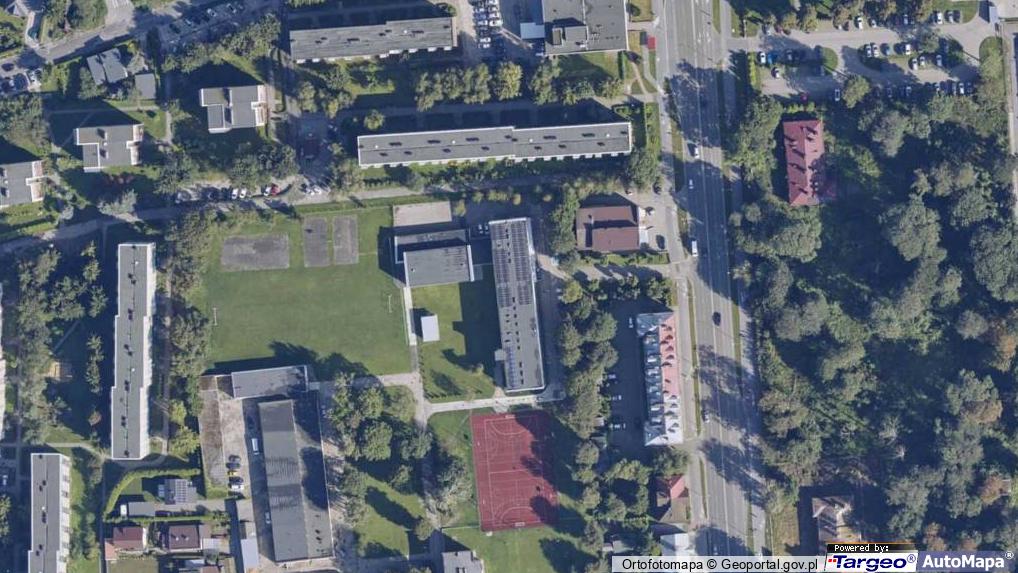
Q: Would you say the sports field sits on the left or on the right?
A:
left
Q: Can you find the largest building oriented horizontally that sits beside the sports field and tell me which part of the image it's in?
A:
top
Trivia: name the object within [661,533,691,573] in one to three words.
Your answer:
house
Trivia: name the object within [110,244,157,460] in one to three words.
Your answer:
building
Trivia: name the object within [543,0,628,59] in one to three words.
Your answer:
building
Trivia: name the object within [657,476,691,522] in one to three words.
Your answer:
house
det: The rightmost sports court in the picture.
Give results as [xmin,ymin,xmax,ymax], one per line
[471,409,558,531]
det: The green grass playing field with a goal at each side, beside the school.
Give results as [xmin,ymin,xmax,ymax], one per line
[202,206,412,376]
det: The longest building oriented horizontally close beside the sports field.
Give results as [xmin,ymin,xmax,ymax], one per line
[358,122,632,174]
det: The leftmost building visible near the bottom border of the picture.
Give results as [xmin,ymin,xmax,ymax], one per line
[27,454,72,573]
